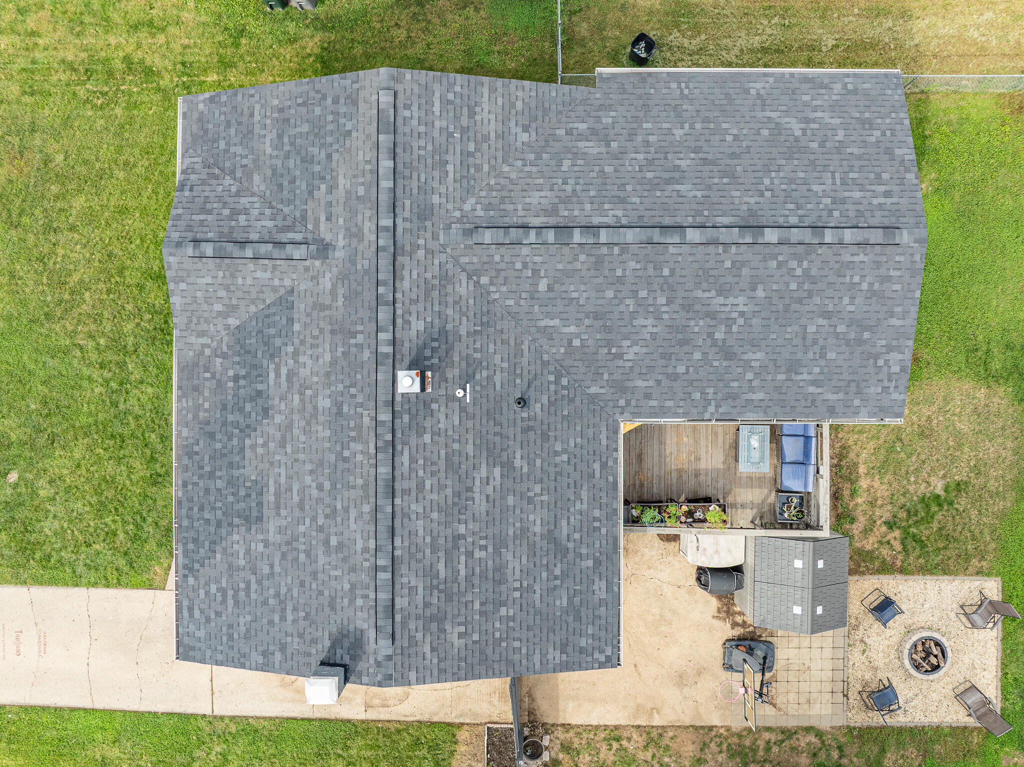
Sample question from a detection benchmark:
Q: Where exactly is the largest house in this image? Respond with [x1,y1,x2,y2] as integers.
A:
[162,67,928,704]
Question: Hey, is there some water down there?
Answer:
No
